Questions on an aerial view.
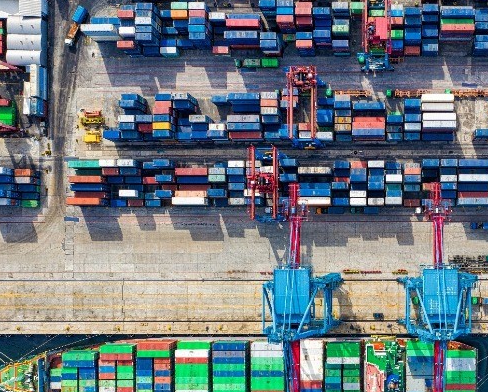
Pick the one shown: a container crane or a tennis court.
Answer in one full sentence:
Visible in the photo is a container crane.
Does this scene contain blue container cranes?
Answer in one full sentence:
Yes, there is a blue container crane in the image.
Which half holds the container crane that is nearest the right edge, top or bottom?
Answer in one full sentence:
The container crane that is nearest the right edge sits in the bottom half of the picture.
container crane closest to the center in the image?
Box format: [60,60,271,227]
[247,143,292,221]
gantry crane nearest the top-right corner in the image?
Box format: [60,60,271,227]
[361,0,397,64]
